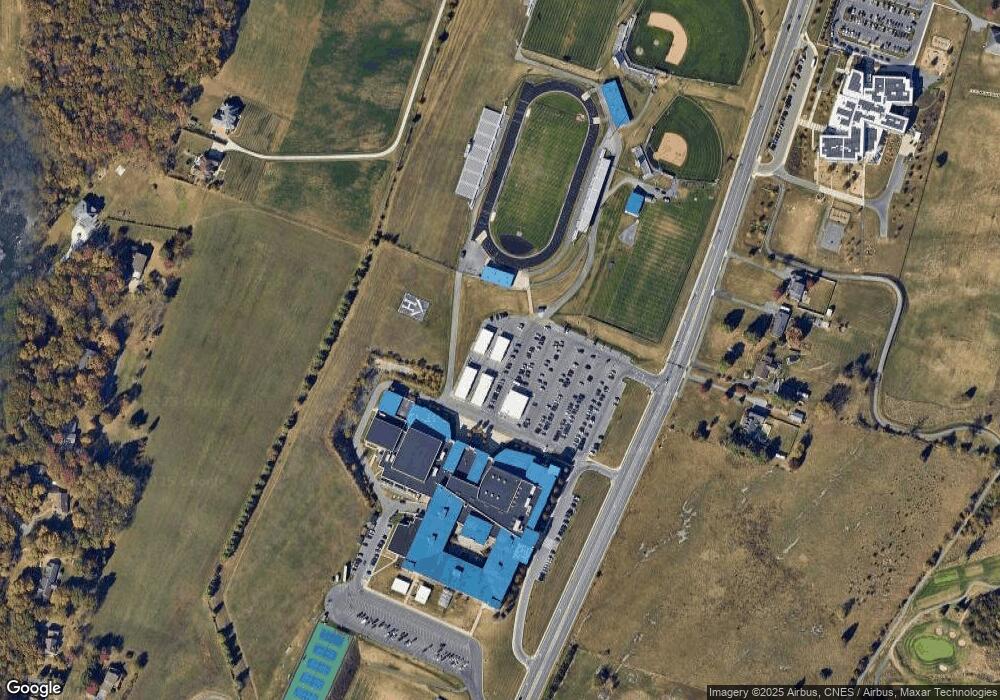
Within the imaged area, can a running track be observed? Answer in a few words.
Yes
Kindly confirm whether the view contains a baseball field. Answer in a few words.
Yes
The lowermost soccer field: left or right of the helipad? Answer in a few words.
right of it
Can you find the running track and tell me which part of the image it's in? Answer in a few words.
top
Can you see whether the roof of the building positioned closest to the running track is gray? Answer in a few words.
No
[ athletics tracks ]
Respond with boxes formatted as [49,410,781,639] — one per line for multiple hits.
[474,74,600,268]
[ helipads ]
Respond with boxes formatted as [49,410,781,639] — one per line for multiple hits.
[398,293,429,320]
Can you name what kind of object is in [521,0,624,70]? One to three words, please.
sports field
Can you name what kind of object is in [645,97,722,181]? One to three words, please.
baseball field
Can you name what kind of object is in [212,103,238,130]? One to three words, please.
house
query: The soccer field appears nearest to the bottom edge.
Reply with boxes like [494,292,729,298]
[588,186,724,343]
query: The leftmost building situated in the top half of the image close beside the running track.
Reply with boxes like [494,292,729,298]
[480,264,518,289]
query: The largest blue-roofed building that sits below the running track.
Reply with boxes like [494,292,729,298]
[366,391,561,609]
